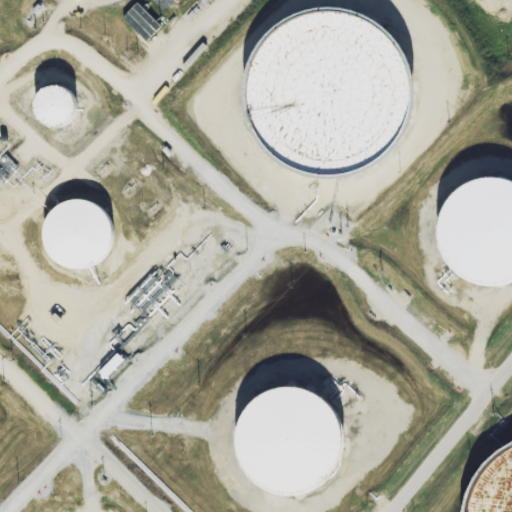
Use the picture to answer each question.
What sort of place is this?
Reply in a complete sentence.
It's an industrial area.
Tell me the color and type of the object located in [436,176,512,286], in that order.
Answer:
white storage tank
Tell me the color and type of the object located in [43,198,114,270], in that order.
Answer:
white storage tank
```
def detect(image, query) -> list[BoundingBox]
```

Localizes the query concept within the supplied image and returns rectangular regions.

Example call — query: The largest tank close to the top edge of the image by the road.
[242,6,414,177]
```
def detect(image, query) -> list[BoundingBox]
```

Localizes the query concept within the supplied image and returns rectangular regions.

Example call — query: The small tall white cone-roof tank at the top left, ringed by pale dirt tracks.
[32,84,78,129]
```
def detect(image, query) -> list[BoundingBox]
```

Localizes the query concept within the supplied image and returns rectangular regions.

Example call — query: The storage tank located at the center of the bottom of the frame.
[234,386,344,496]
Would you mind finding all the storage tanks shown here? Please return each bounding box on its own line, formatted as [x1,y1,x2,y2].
[32,84,78,129]
[43,198,114,270]
[436,176,512,286]
[242,6,414,177]
[234,386,344,496]
[462,442,512,512]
